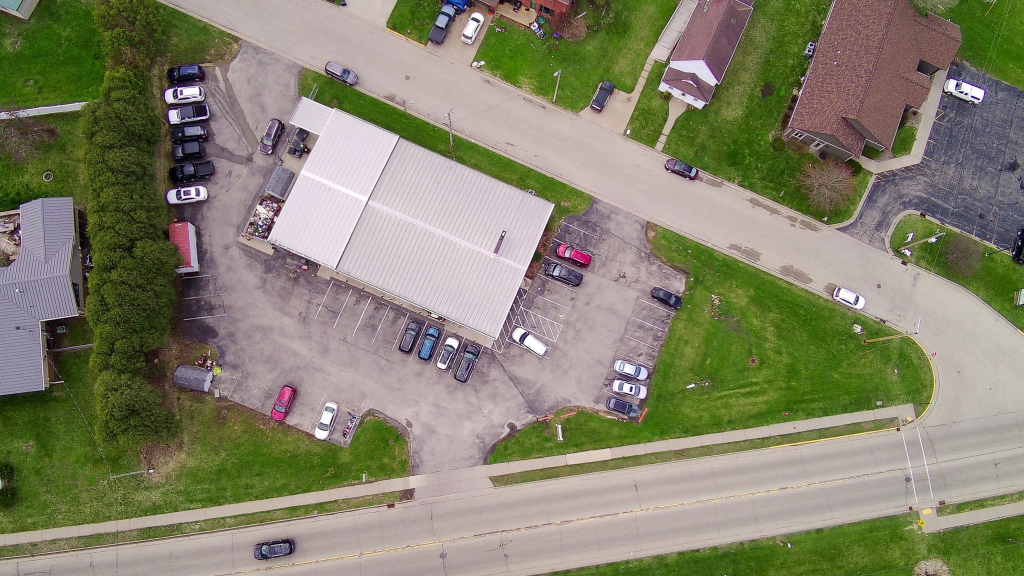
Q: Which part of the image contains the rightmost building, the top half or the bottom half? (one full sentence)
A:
The rightmost building sits in the top half of the picture.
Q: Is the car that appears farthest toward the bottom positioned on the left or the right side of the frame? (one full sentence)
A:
The car that appears farthest toward the bottom is on the left side of the image.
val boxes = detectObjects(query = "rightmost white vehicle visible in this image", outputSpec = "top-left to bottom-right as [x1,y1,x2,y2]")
[941,80,990,106]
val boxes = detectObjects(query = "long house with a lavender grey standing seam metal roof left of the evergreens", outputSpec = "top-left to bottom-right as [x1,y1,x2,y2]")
[0,197,89,397]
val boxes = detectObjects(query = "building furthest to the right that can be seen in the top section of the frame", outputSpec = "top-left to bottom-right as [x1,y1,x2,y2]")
[783,0,960,159]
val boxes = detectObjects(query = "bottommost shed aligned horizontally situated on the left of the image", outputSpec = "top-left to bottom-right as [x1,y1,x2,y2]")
[172,365,217,392]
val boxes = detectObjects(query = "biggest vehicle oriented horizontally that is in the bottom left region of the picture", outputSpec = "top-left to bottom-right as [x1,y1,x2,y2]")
[253,537,298,561]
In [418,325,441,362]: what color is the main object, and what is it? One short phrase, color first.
blue car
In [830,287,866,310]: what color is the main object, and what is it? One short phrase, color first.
white car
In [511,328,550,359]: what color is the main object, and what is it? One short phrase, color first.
white car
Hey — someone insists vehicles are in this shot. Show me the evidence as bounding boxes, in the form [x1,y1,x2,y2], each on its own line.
[418,325,441,362]
[167,187,209,204]
[315,400,339,441]
[454,343,480,385]
[830,287,866,310]
[555,243,593,269]
[428,4,457,47]
[323,59,360,86]
[168,162,217,182]
[648,284,683,311]
[543,262,585,289]
[663,158,700,183]
[399,320,422,354]
[167,65,207,84]
[461,12,484,46]
[589,79,612,115]
[604,397,639,420]
[511,328,550,359]
[253,537,298,561]
[167,105,212,124]
[611,380,648,401]
[260,118,284,155]
[436,336,459,373]
[1008,227,1024,266]
[171,141,207,160]
[272,383,296,421]
[612,361,649,383]
[163,86,207,104]
[941,80,990,106]
[171,126,209,144]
